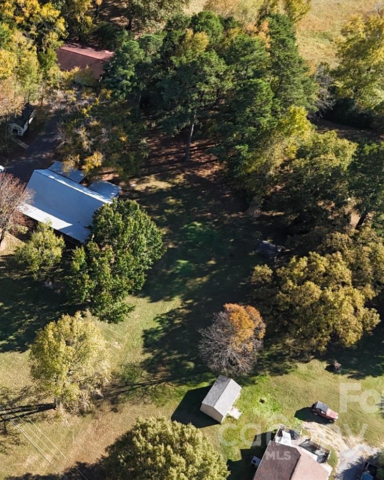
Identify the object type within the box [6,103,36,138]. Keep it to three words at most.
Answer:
shed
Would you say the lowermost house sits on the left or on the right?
right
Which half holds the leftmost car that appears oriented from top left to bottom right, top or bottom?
bottom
